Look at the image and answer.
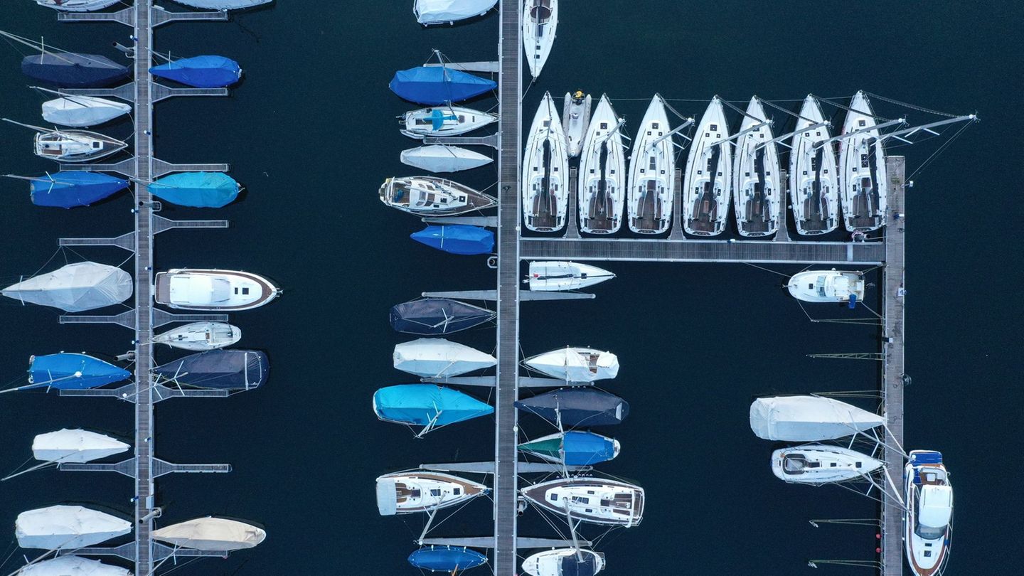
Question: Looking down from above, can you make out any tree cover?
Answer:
No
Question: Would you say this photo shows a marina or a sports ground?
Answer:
marina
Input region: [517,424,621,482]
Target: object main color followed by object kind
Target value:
blue boat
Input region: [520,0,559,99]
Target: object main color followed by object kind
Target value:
white boat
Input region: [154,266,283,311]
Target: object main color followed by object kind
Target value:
white boat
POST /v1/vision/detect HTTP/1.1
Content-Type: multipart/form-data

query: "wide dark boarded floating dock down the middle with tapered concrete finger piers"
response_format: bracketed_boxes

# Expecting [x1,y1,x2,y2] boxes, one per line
[416,0,598,576]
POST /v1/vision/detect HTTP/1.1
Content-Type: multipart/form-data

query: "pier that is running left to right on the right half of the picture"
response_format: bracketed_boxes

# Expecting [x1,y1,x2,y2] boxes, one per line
[520,167,885,264]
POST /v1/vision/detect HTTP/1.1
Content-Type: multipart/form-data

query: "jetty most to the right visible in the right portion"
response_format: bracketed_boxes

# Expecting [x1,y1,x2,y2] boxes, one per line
[869,156,905,576]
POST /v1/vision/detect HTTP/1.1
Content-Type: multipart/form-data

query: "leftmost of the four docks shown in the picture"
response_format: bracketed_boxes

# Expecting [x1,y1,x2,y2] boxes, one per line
[56,0,230,576]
